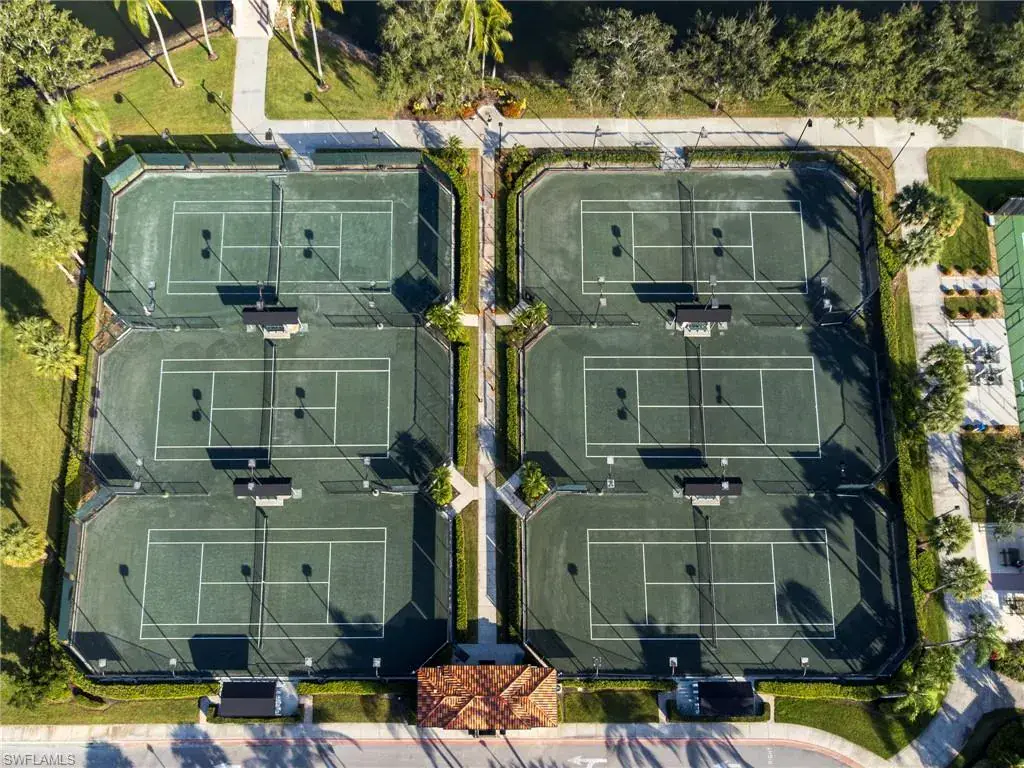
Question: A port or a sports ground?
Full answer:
This looks like a sports ground.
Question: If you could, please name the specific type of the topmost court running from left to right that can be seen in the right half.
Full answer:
From above, the topmost court running from left to right that can be seen in the right half can be identified as a tennis court.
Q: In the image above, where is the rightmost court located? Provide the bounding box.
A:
[994,214,1024,436]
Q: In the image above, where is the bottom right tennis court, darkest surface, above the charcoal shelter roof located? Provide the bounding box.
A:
[525,494,903,676]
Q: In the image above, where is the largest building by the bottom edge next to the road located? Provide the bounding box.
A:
[416,663,559,731]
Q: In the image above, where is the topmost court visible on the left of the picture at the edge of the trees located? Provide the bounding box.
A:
[106,169,450,327]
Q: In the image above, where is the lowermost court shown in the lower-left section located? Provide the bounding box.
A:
[72,493,449,675]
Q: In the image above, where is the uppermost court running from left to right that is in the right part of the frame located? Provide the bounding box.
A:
[523,168,868,326]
